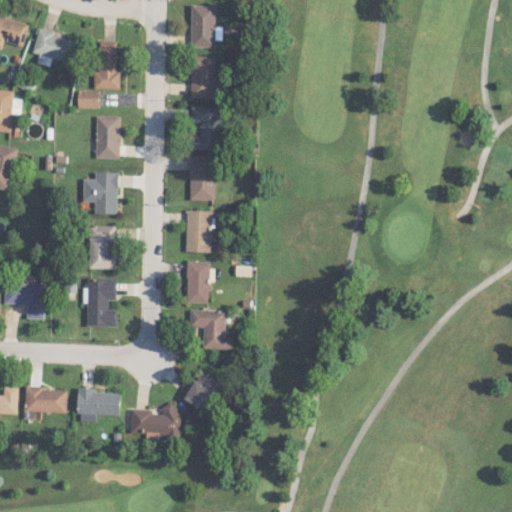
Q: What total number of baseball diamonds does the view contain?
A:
0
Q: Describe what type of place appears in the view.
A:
golf course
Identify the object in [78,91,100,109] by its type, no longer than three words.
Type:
building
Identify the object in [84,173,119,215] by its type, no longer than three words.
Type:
house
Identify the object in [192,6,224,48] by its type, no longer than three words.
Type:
house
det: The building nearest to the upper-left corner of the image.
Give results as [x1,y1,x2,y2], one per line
[0,16,30,48]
